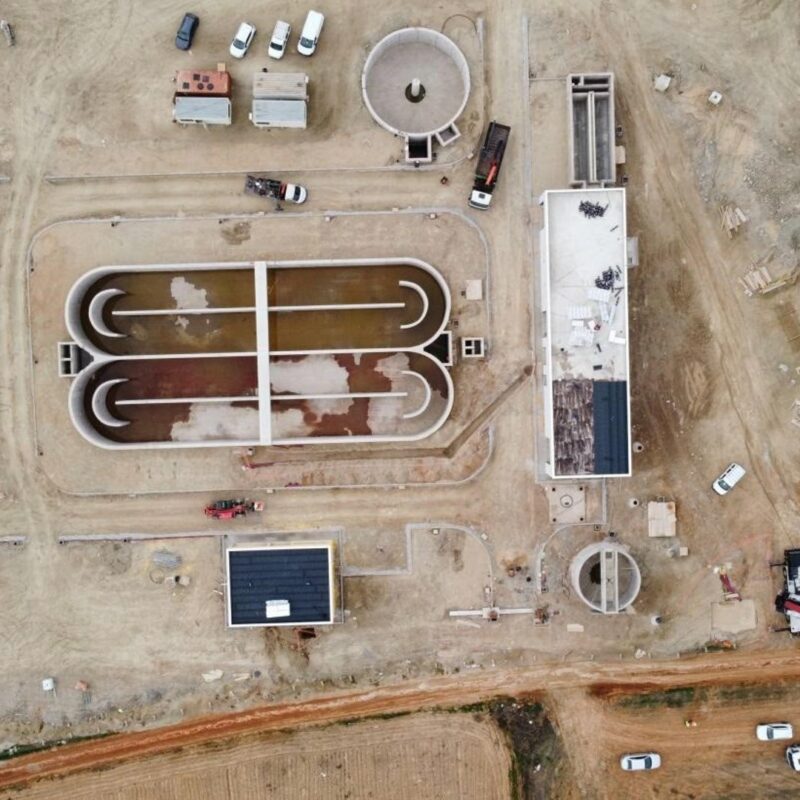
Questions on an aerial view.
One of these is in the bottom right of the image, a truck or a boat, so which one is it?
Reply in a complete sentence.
You can see a truck in the bottom right of the image.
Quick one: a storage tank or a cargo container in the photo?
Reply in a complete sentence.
The one in the frame is a storage tank.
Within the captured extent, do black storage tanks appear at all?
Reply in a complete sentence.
No, there appears to be no black storage tank in this shot.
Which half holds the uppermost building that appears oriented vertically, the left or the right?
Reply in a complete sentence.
It is on the right.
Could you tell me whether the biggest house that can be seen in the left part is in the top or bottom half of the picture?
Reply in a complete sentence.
It is in the bottom half that the biggest house that can be seen in the left part appears.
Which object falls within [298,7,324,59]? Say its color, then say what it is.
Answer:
white vehicle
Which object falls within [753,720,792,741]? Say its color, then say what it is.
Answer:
white car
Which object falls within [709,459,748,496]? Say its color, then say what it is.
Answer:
white van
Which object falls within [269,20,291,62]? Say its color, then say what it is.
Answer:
white car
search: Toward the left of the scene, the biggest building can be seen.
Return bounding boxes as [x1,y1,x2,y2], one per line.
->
[227,534,338,628]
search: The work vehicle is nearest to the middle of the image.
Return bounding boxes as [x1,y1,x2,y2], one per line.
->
[203,498,250,520]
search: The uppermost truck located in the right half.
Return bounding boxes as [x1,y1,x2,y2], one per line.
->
[467,119,511,212]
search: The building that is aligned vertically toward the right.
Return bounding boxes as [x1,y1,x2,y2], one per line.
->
[535,188,639,477]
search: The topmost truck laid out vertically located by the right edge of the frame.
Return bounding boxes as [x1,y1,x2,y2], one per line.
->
[762,548,800,639]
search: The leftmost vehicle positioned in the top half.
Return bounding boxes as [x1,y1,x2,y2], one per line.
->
[176,12,200,54]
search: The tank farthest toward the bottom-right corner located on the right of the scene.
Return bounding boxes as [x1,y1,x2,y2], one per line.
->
[570,541,641,616]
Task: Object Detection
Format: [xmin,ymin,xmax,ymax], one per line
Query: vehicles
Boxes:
[467,119,511,212]
[762,548,800,639]
[203,498,250,520]
[298,7,324,59]
[242,177,308,205]
[176,12,200,54]
[620,749,660,771]
[228,20,257,61]
[753,720,792,741]
[269,20,291,62]
[709,459,748,496]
